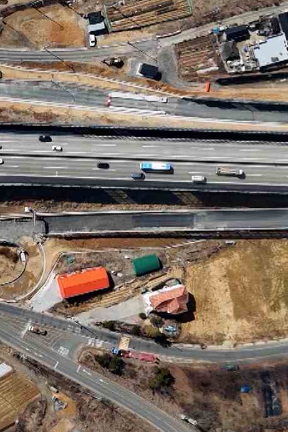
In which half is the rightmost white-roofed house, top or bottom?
top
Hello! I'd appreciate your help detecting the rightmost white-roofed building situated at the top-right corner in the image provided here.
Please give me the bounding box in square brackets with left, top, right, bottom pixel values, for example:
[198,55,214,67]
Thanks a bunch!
[246,35,288,68]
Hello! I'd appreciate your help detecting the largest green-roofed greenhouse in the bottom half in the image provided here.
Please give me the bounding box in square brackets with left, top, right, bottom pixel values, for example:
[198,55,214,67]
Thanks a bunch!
[129,253,160,275]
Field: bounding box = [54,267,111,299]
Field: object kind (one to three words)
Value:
barn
